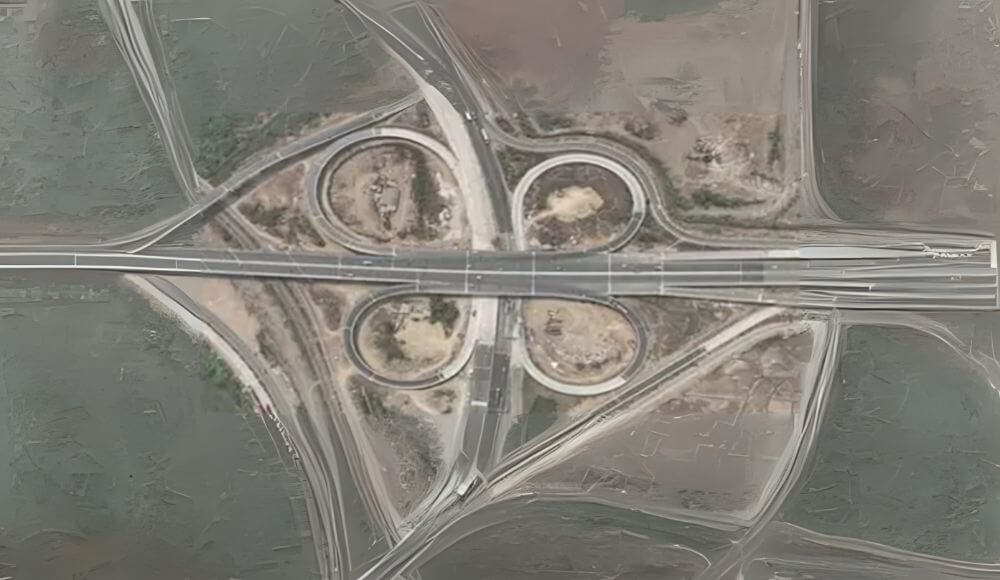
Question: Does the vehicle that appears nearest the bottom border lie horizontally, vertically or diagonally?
diagonally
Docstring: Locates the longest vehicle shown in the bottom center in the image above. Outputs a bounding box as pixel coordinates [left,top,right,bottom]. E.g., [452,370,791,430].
[457,476,479,496]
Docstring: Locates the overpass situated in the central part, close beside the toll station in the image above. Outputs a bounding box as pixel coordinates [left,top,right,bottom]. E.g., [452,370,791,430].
[0,246,803,296]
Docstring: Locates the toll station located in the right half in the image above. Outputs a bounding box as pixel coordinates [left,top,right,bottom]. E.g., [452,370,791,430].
[800,240,998,308]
